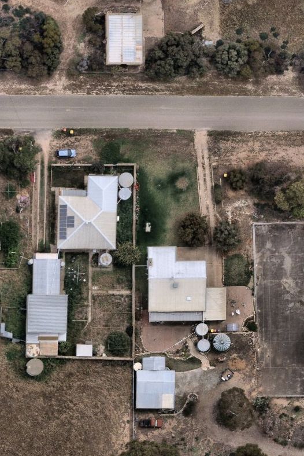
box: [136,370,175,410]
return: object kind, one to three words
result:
shed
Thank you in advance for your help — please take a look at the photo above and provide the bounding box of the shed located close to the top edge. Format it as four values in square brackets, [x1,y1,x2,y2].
[105,11,145,65]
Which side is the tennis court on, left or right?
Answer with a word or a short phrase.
right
